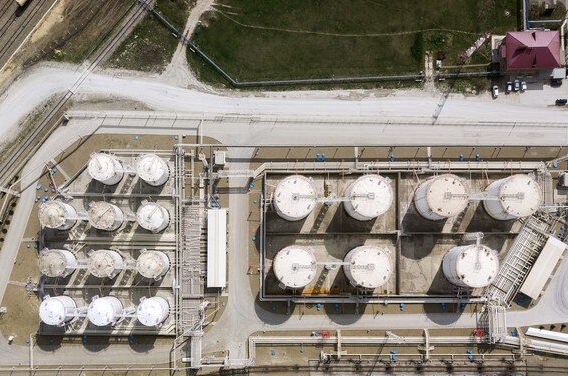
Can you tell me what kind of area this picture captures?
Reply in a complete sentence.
This looks like an industrial area.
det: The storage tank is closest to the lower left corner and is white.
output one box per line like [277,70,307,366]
[38,294,83,328]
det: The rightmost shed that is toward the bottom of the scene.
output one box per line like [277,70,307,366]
[515,236,568,299]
